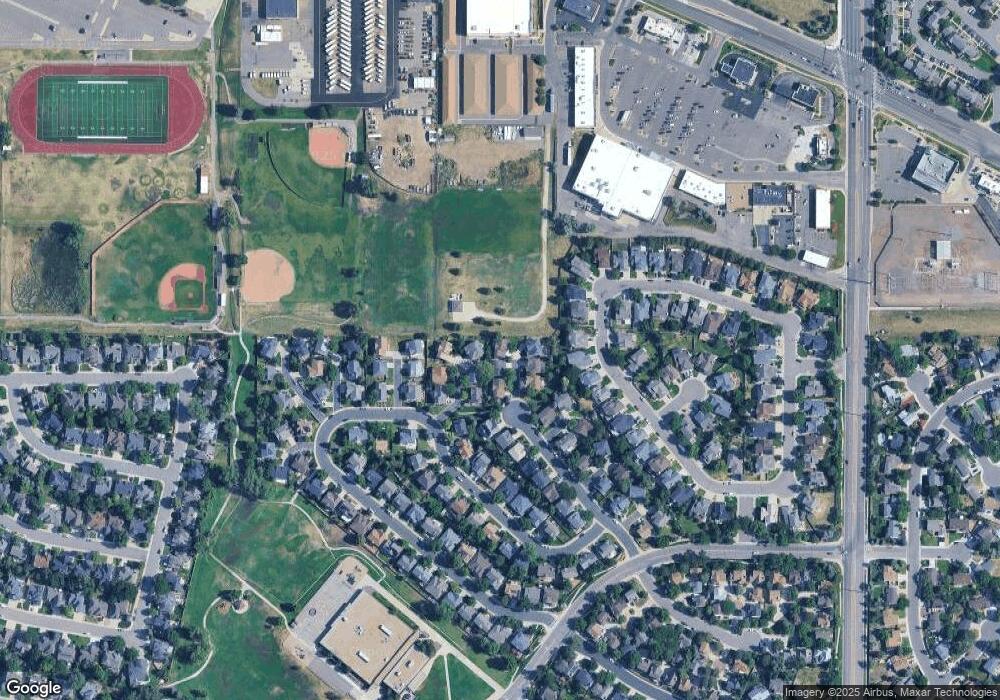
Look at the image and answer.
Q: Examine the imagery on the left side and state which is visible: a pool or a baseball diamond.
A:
baseball diamond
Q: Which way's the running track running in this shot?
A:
horizontally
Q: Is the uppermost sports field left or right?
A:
left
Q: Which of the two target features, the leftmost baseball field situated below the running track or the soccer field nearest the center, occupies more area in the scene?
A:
the baseball field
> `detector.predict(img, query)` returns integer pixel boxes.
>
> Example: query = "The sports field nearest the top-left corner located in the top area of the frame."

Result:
[37,75,169,144]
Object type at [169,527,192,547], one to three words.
house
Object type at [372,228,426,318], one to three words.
soccer field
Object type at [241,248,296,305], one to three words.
baseball field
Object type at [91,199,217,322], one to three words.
baseball field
